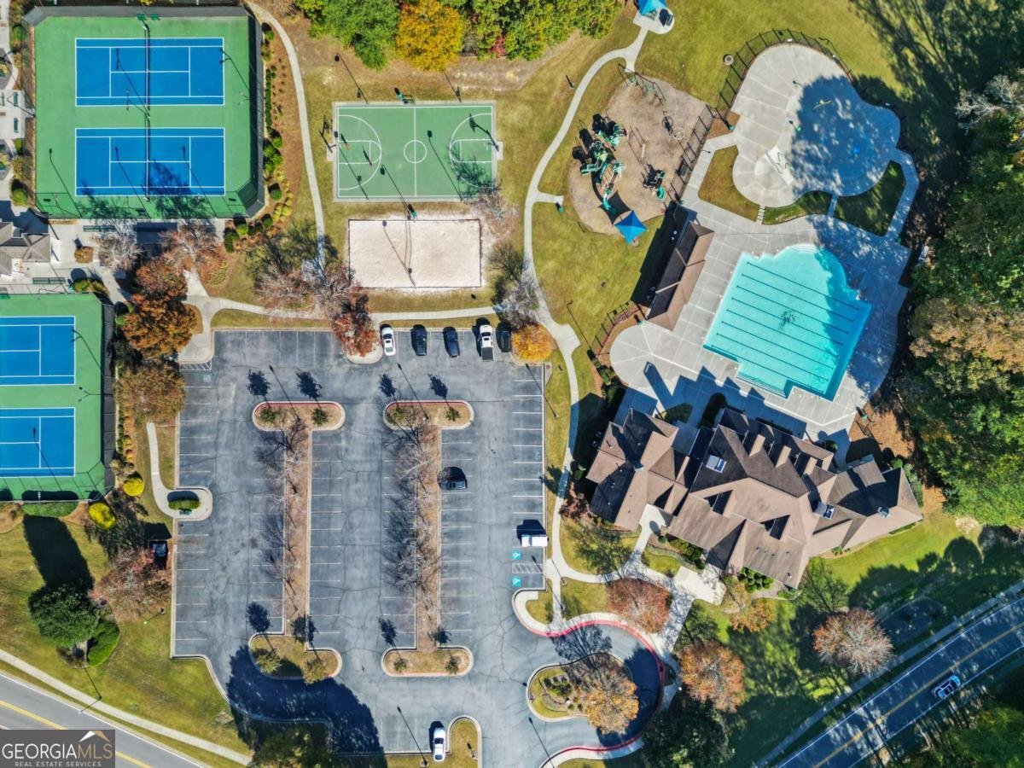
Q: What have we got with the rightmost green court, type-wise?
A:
basketball court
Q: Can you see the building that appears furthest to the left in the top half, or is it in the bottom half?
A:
top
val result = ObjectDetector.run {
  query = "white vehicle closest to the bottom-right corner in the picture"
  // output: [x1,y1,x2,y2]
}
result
[519,536,547,550]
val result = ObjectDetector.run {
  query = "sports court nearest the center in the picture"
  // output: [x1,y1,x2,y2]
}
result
[349,217,482,288]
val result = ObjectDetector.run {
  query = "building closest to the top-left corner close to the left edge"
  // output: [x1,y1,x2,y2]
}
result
[0,215,63,292]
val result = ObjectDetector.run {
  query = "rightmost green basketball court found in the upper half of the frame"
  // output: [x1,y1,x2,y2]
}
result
[327,101,503,201]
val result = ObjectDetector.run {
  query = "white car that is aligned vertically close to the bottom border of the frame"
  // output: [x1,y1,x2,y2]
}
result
[431,729,446,760]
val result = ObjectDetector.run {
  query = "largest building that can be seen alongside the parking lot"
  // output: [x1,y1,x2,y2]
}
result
[584,406,921,582]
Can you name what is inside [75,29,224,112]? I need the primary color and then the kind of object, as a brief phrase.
blue tennis court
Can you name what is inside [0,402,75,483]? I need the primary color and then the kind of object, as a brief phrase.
blue tennis court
